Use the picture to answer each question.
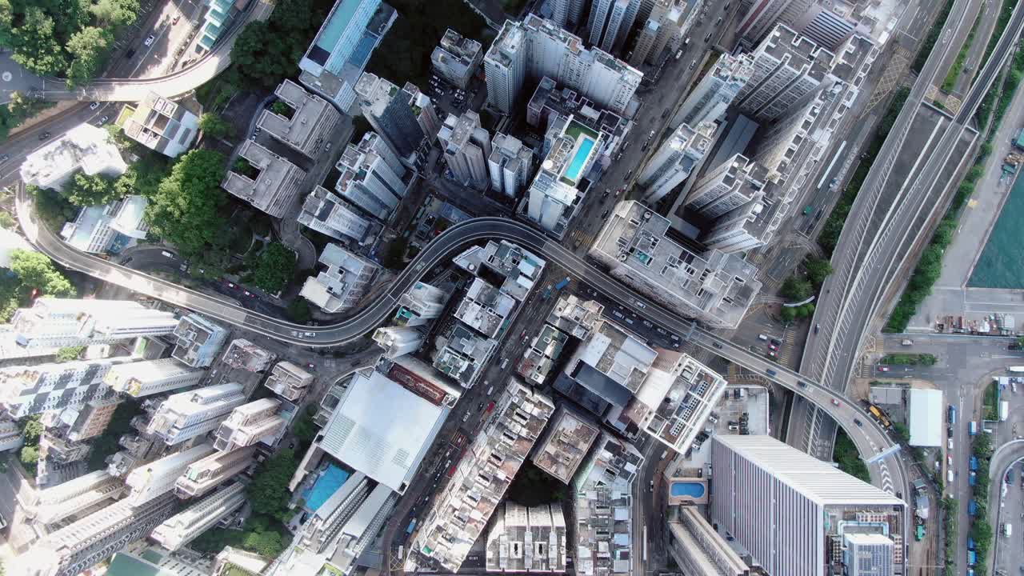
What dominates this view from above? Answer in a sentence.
The scene is dominated by buildings.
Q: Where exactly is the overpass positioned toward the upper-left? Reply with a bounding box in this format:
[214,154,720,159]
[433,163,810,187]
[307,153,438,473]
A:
[43,0,274,101]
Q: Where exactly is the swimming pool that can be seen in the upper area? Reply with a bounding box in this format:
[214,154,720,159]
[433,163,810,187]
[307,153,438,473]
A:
[565,138,593,180]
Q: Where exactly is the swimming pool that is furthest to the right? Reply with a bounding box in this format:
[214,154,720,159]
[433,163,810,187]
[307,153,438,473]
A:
[672,483,705,498]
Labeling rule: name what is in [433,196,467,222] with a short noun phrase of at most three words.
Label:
shed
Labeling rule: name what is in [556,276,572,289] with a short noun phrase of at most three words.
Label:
vehicle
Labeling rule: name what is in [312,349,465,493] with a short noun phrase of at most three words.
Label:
building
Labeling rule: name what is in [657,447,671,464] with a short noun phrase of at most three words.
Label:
vehicle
